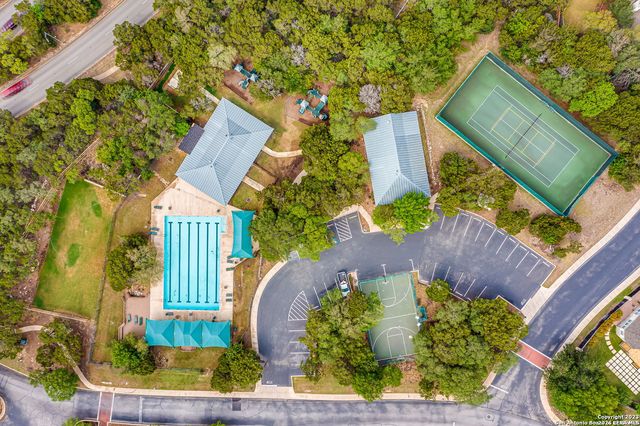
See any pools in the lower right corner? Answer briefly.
No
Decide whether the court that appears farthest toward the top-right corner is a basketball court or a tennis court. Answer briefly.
tennis court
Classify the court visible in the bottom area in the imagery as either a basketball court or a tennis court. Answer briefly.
basketball court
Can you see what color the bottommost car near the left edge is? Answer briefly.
red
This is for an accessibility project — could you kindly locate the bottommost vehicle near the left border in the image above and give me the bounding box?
[1,77,26,98]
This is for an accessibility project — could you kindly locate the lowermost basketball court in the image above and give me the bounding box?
[359,271,426,364]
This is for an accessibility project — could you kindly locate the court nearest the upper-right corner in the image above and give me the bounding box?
[436,56,611,212]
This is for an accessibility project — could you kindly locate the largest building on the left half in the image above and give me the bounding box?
[175,97,274,206]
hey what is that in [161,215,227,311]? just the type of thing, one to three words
swimming pool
